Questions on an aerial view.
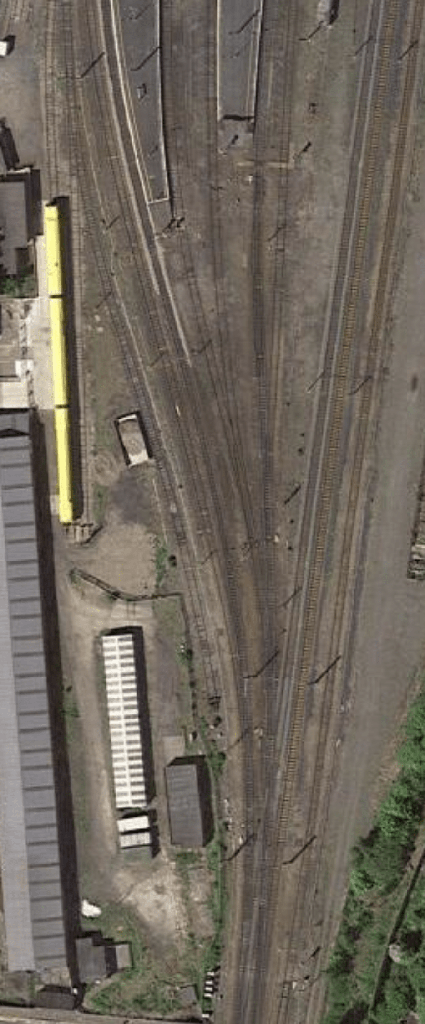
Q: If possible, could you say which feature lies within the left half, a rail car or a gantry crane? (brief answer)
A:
rail car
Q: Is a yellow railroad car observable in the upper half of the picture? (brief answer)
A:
Yes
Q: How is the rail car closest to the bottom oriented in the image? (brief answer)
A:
from top to bottom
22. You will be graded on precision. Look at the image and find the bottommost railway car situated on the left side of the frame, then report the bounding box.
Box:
[55,407,75,523]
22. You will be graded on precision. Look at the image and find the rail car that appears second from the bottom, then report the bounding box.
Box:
[50,297,69,405]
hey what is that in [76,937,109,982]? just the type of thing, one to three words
shed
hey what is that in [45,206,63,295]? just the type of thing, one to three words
rail car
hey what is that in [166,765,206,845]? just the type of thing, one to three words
shed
